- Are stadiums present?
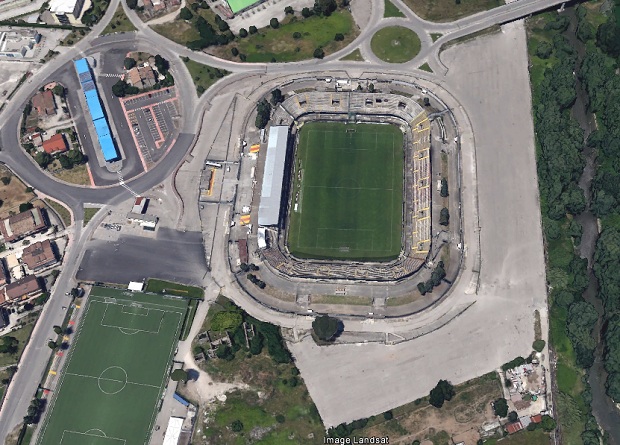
Yes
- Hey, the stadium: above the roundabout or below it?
below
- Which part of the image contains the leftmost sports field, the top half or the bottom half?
bottom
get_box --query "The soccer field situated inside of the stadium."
[287,122,403,262]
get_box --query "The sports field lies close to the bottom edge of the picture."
[36,287,190,445]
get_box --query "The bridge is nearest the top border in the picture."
[438,0,577,41]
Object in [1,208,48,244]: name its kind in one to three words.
building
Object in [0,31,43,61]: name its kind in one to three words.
building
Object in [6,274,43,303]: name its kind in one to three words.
house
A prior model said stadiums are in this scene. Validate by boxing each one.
[257,81,449,285]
